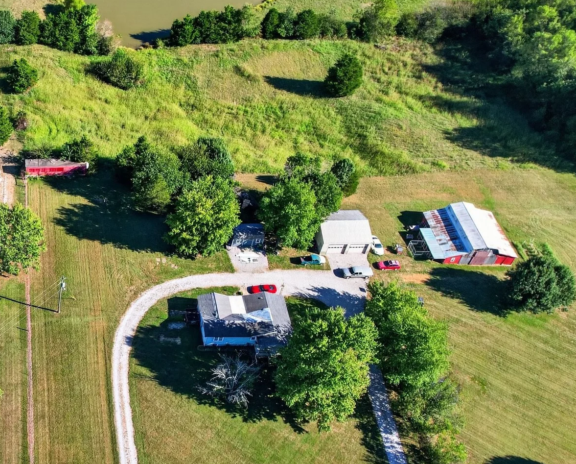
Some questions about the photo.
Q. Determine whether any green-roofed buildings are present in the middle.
No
